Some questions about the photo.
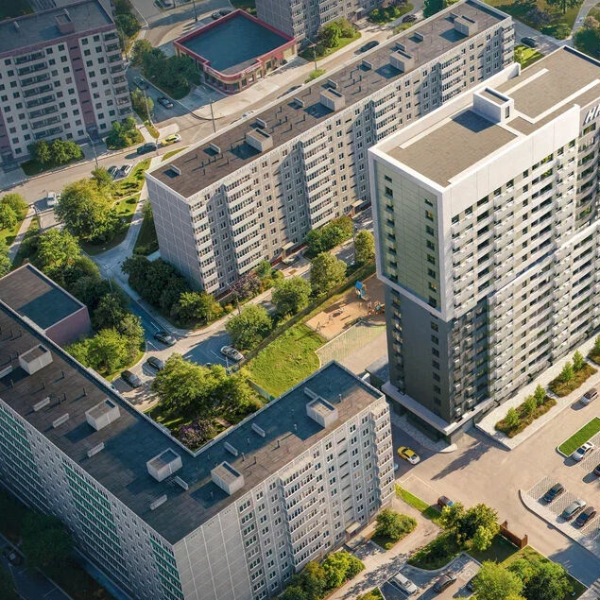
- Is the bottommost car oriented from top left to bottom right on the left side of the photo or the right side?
right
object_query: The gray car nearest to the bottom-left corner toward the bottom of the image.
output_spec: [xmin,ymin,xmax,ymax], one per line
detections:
[120,371,142,388]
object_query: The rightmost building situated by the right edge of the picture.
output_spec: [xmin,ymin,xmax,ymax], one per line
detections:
[363,40,600,445]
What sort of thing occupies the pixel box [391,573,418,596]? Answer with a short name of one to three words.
car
